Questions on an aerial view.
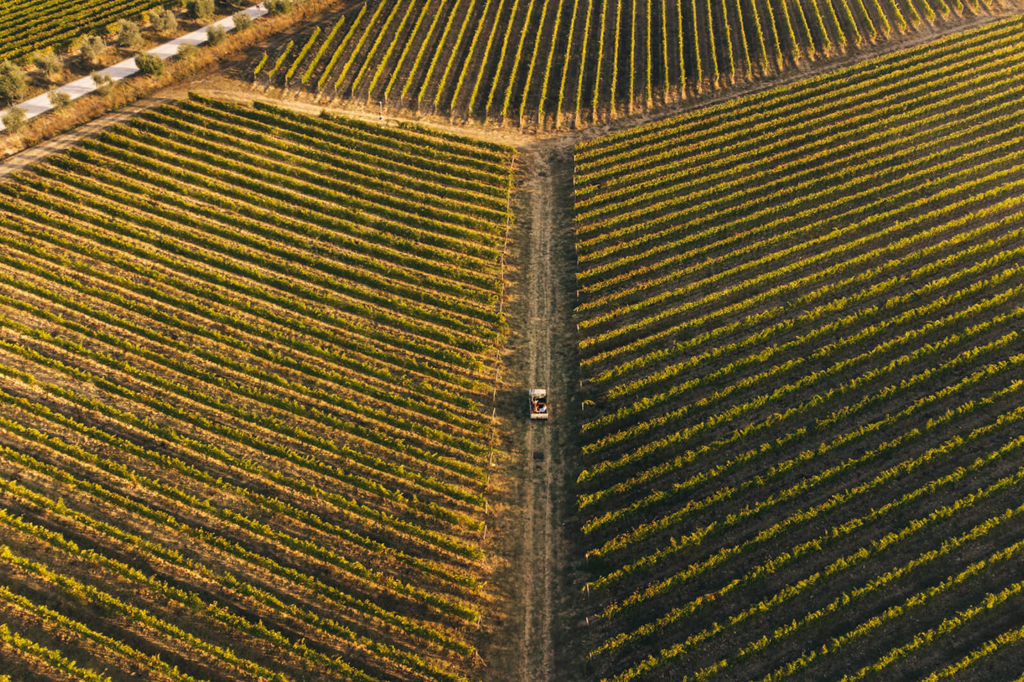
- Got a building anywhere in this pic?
No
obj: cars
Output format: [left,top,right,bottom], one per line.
[530,388,548,420]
